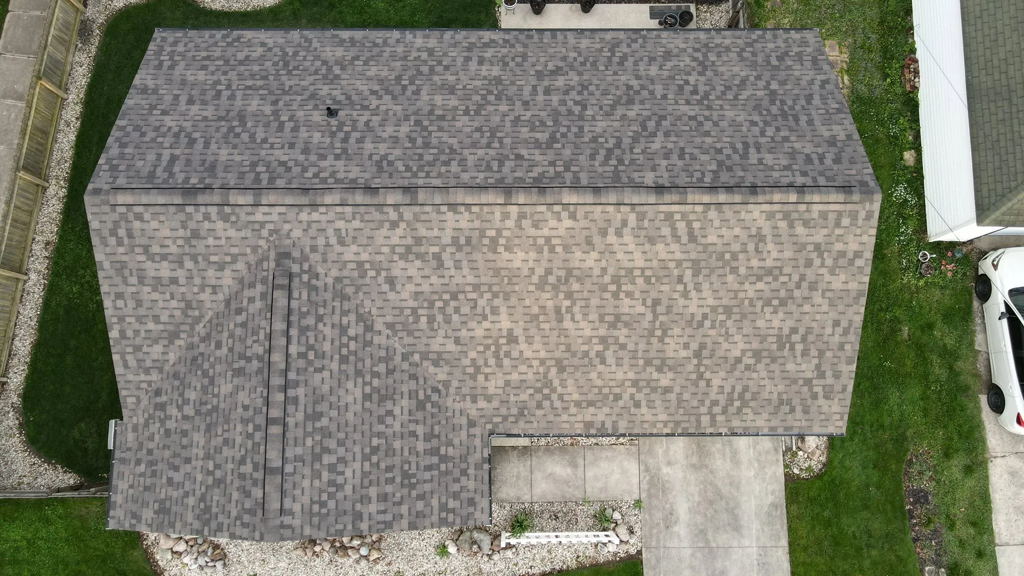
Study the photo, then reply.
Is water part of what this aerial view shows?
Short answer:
No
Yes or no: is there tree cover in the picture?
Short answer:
No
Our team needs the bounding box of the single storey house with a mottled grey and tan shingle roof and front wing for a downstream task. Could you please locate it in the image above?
[82,28,882,546]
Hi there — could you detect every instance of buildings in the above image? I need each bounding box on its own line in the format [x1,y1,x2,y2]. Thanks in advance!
[914,0,1024,244]
[82,28,882,546]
